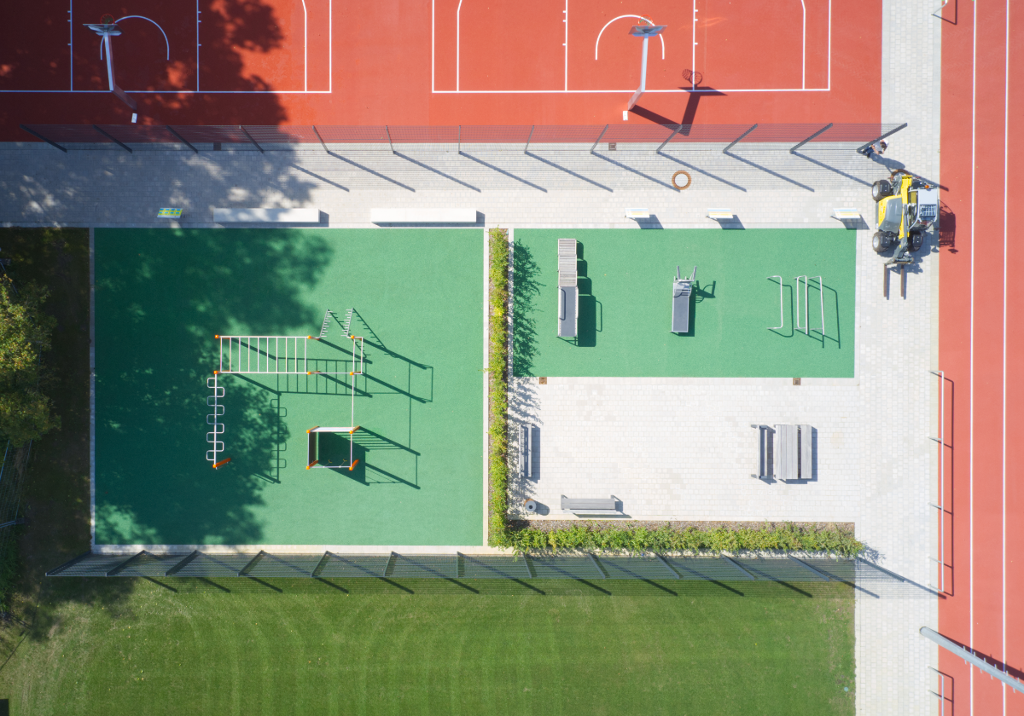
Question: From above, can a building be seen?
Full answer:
No, the picture doesn't show any building.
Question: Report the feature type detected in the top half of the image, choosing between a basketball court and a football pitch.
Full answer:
You can see a basketball court in the top half of the image.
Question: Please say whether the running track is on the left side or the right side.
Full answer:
The running track appears in the right half of the scene.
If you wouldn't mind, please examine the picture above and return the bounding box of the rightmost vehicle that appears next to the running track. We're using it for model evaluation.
[870,168,939,296]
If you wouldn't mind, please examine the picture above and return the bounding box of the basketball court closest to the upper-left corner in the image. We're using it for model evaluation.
[0,0,381,142]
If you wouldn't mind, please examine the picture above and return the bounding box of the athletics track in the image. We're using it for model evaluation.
[938,0,1024,716]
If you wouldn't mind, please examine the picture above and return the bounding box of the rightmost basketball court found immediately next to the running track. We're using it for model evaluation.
[381,0,882,142]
